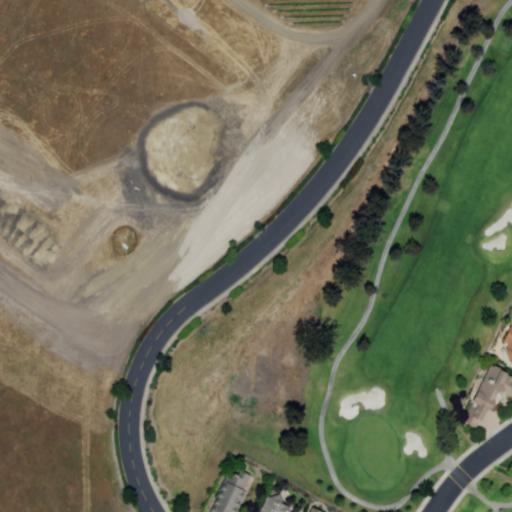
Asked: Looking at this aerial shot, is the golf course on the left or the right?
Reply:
right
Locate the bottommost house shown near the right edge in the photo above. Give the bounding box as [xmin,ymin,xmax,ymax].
[465,366,512,427]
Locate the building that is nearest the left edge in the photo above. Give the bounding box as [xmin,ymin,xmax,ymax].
[206,468,254,512]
